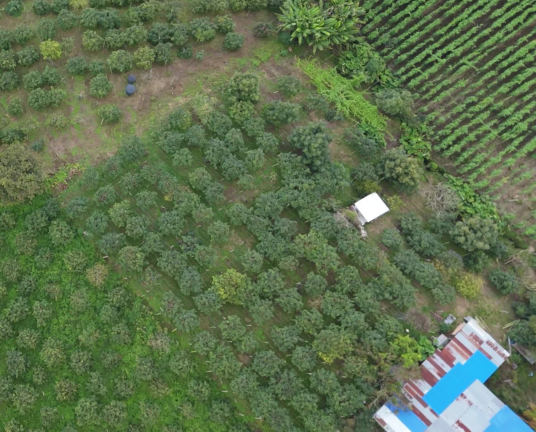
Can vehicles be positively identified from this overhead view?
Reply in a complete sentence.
No, I find no vehicle anywhere in the image.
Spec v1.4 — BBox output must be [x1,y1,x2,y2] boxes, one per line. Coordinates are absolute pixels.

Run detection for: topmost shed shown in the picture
[349,192,389,226]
